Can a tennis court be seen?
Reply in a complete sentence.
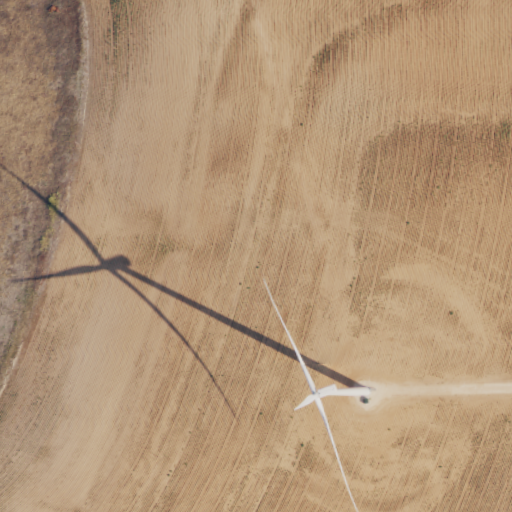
No, I can see no tennis court in this picture.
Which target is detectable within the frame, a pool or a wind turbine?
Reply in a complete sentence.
The one in the frame is a wind turbine.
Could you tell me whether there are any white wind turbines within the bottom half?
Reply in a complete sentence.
Yes, the scene does show a white wind turbine within the bottom half.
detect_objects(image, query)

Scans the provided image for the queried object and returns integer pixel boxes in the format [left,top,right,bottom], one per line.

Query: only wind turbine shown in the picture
[261,274,376,512]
